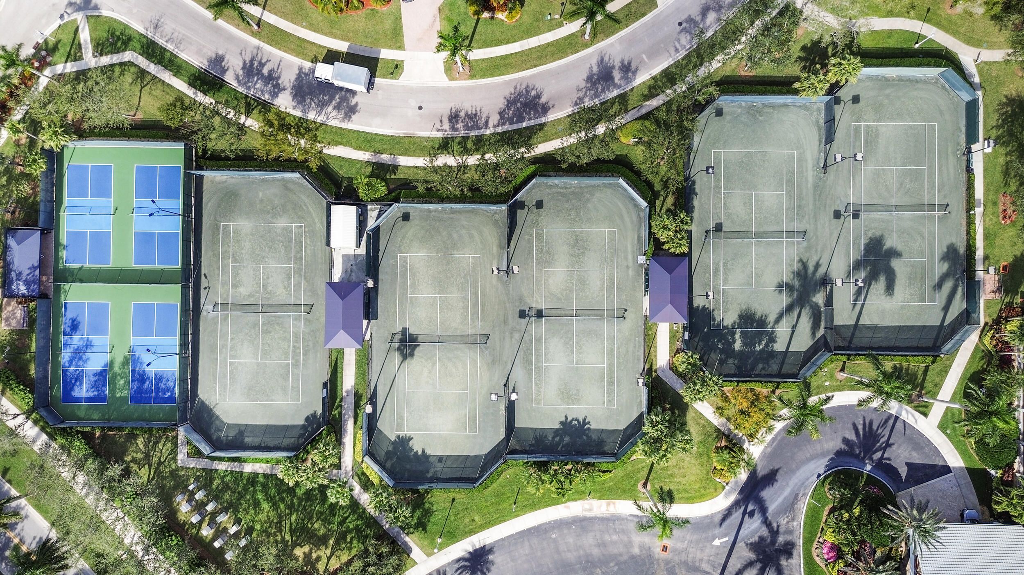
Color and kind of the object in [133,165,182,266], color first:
blue sports court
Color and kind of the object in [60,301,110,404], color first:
blue sports court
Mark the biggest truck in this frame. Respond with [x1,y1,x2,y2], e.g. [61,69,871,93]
[316,60,376,92]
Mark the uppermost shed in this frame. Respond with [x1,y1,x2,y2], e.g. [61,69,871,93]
[330,205,361,251]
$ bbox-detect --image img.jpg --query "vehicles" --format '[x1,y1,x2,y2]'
[962,509,983,523]
[316,60,376,92]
